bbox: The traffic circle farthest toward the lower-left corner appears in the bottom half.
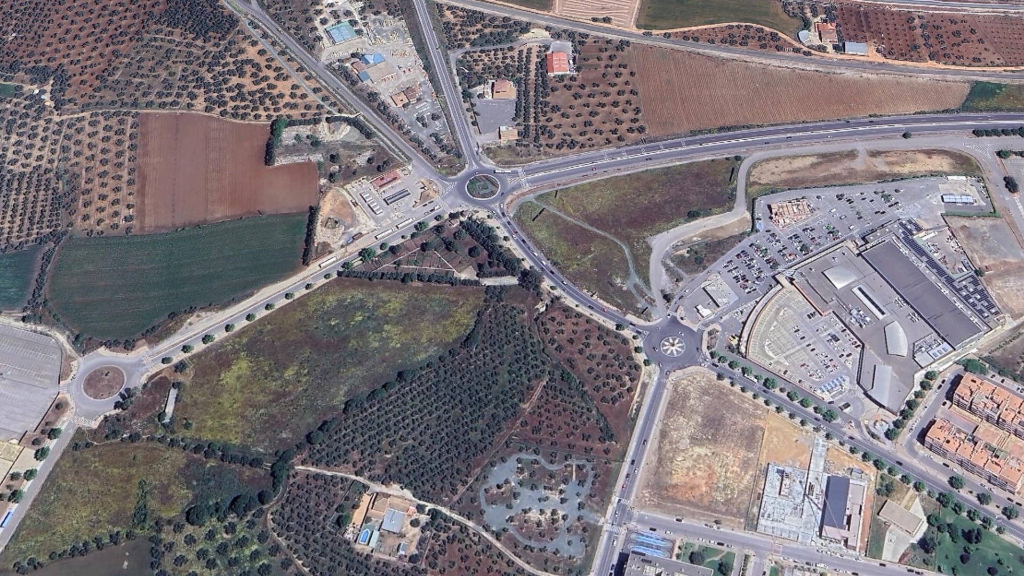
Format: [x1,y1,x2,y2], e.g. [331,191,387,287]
[71,356,137,410]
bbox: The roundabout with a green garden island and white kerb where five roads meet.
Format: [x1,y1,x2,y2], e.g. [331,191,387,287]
[439,158,539,210]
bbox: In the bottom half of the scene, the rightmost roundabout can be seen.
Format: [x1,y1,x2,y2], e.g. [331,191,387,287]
[644,323,701,369]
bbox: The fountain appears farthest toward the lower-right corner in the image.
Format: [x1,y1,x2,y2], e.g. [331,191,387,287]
[867,414,893,439]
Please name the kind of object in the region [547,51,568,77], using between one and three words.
shed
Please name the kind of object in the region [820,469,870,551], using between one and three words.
building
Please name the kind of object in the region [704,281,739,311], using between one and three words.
building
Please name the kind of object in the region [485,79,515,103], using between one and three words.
house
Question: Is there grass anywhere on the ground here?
Yes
